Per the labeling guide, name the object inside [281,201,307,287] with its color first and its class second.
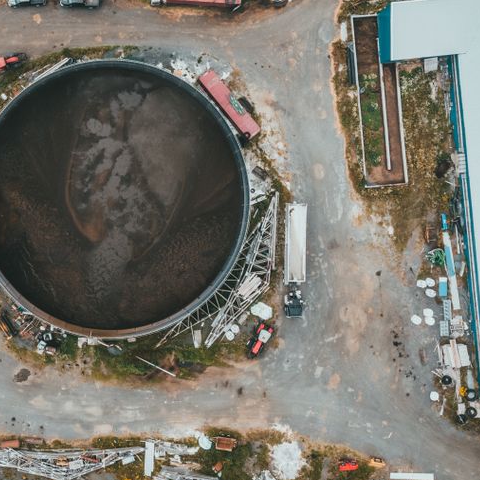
white trailer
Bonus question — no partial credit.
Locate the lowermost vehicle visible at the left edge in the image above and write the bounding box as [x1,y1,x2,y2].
[0,51,30,74]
